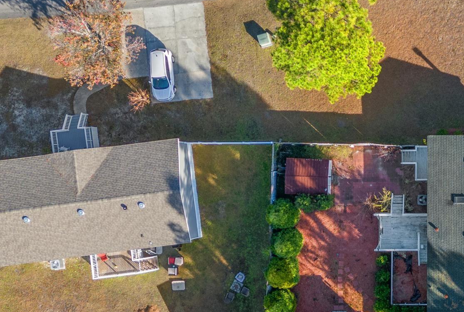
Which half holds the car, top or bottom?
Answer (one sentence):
The top half of the photo is where the car is.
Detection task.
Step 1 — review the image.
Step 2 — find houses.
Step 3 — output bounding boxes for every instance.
[0,137,205,267]
[424,133,464,312]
